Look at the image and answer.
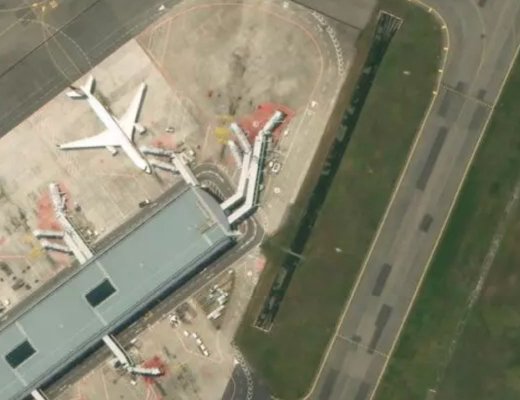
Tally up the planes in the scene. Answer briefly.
1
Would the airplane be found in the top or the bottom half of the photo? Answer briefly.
top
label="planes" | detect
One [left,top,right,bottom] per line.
[61,74,151,173]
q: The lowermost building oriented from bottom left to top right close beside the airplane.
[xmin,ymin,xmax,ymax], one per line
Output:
[0,185,247,400]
